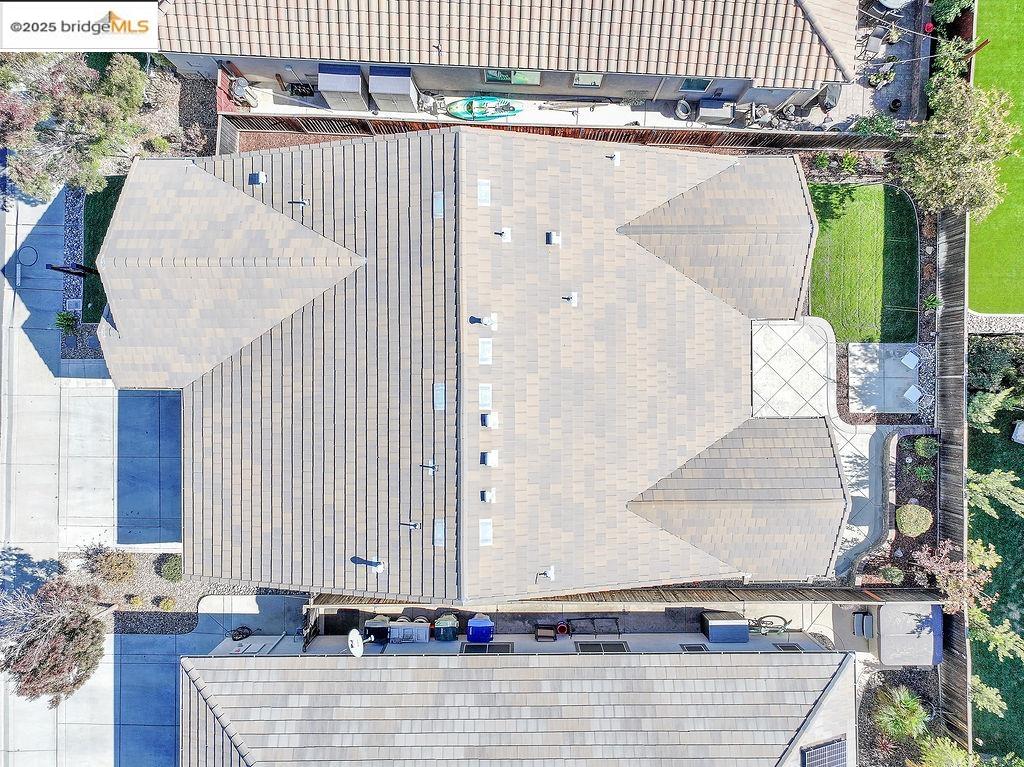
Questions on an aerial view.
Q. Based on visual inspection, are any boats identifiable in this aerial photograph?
Yes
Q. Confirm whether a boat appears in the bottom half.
No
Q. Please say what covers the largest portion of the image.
buildings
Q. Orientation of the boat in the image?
from left to right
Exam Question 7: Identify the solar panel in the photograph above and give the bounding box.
[808,732,844,767]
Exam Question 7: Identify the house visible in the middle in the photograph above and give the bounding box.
[96,125,850,606]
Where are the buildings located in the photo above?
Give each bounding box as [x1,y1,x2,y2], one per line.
[177,632,858,767]
[96,125,850,606]
[121,0,862,118]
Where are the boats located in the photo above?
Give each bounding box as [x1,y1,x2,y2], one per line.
[448,94,524,120]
